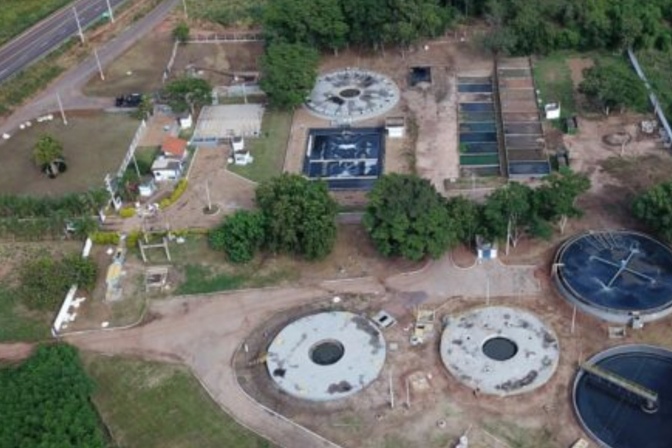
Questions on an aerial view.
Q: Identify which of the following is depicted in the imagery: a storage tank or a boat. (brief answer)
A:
storage tank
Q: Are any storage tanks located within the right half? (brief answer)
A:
Yes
